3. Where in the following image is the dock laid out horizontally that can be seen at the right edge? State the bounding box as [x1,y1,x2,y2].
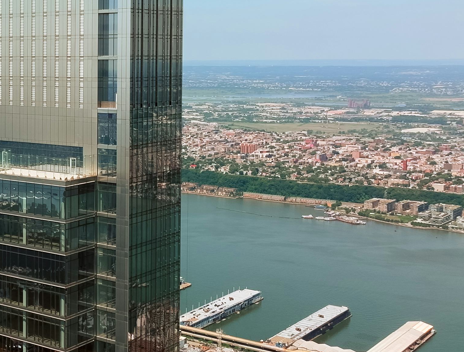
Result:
[369,322,441,352]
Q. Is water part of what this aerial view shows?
Yes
